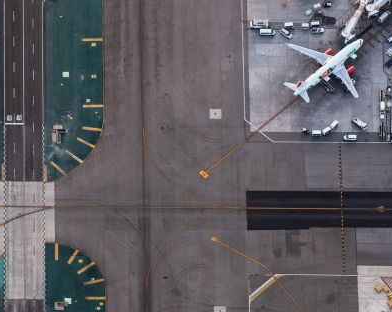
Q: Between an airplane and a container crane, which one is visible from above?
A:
airplane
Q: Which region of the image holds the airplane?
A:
top right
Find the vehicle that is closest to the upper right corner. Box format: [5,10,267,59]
[376,12,392,26]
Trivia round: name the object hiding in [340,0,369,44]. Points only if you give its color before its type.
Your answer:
white jet bridge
